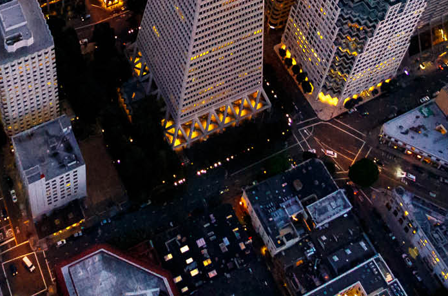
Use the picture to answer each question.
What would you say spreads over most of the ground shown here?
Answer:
buildings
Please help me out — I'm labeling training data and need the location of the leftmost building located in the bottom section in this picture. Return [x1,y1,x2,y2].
[11,108,108,247]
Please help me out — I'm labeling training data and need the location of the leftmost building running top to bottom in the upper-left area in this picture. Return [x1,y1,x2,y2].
[0,0,62,136]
